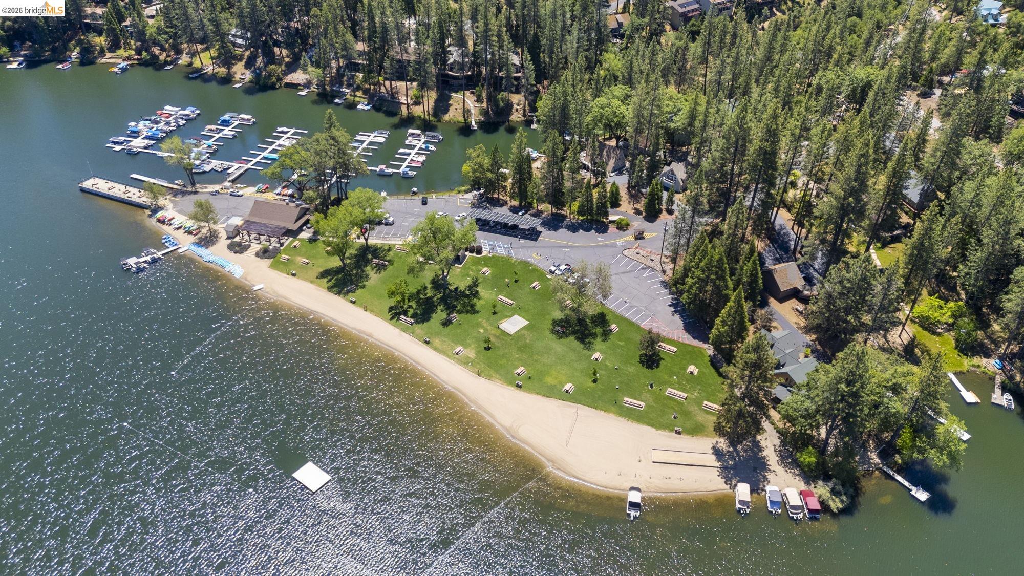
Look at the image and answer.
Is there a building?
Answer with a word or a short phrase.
Yes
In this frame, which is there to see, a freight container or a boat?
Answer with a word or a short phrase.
boat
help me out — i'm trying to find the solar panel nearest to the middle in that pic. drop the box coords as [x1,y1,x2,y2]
[468,207,542,229]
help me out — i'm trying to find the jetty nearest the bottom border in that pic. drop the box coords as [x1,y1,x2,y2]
[880,465,931,502]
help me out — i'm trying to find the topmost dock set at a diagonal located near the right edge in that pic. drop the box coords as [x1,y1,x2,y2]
[947,373,980,404]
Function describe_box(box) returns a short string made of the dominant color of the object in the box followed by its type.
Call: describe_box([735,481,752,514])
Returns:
white boat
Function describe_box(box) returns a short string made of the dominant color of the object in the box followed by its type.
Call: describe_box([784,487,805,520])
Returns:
white boat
